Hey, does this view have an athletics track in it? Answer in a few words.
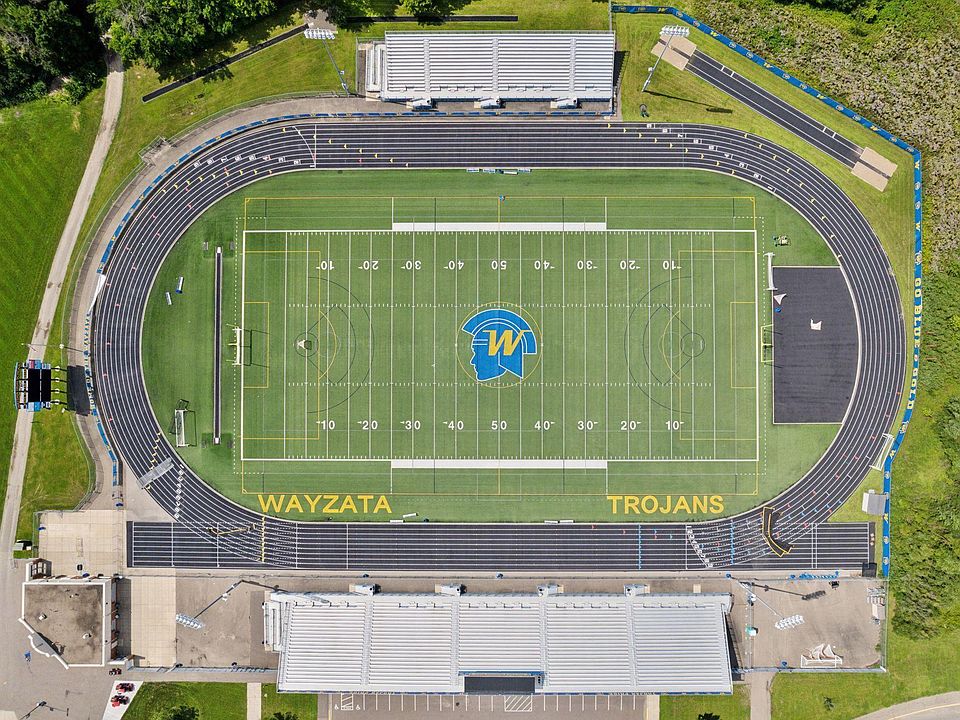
Yes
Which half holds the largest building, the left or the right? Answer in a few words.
left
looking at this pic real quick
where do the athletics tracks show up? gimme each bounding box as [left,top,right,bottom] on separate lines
[93,120,908,572]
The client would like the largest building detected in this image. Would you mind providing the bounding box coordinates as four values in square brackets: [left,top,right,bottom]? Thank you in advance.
[19,556,128,671]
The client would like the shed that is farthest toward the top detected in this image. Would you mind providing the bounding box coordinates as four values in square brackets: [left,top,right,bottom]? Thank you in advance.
[860,488,891,514]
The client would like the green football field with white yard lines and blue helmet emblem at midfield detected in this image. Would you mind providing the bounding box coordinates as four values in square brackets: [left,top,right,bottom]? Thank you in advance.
[142,170,838,520]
